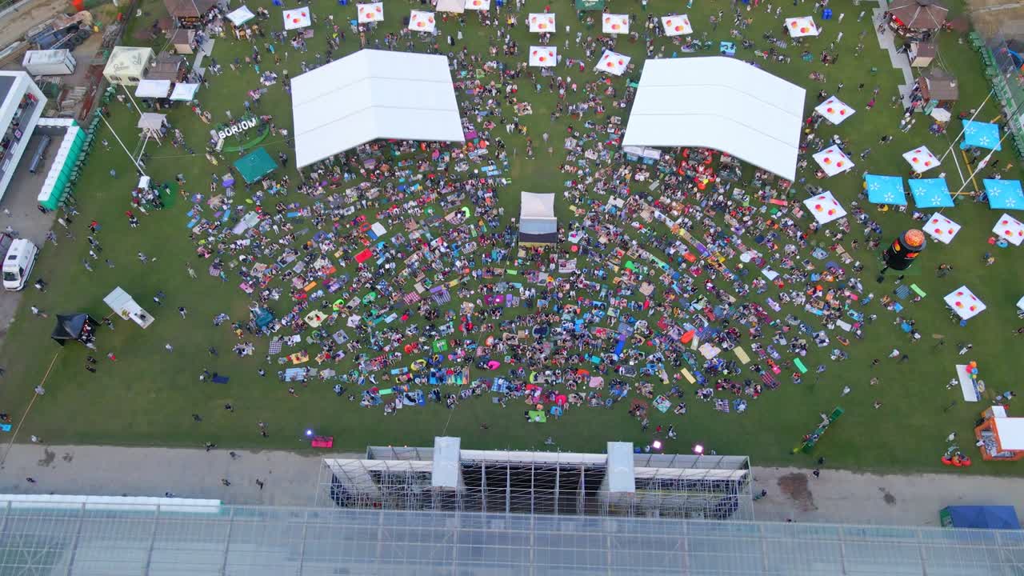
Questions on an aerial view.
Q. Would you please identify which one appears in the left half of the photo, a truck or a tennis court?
truck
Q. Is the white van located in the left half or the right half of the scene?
left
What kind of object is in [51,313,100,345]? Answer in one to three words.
tent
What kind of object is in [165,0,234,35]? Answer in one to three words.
building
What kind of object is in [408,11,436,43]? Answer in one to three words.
gazebo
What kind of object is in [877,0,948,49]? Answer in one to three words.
building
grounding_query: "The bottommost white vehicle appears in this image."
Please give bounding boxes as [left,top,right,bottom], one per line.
[3,234,44,290]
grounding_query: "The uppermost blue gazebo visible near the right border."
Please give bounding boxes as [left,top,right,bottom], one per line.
[951,119,1003,163]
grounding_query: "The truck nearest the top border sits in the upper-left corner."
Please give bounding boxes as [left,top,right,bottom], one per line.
[26,10,98,51]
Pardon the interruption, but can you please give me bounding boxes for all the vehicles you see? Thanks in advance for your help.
[26,10,98,51]
[0,238,15,275]
[3,234,44,290]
